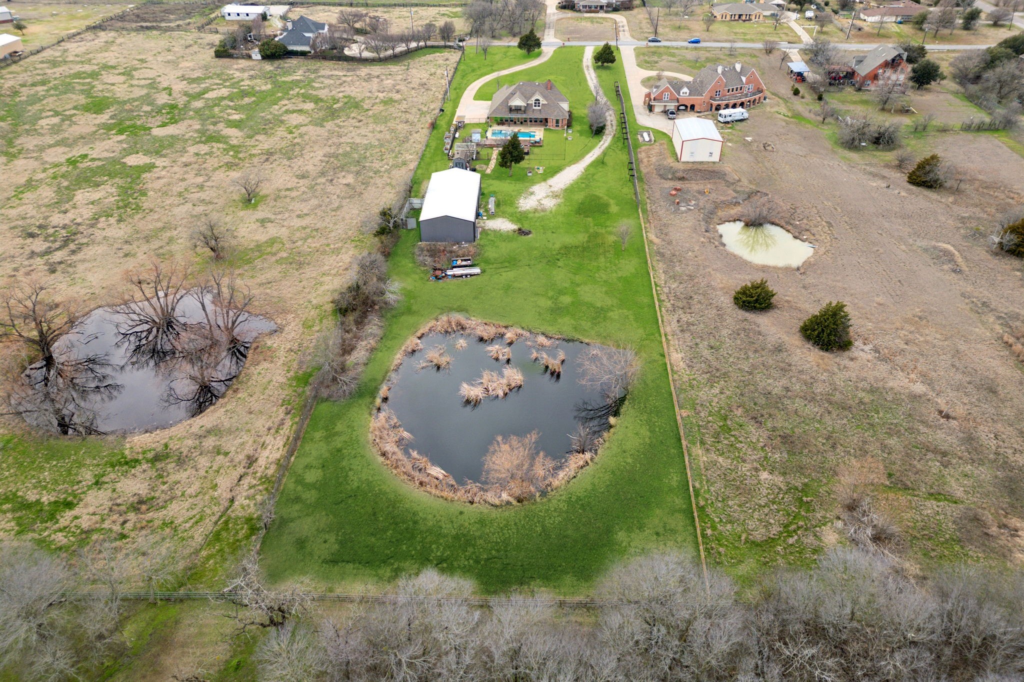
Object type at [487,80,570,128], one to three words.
house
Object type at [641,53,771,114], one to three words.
house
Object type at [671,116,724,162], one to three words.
building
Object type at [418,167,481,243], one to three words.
barn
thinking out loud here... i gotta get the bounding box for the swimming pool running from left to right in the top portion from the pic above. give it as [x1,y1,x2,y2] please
[486,126,544,140]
